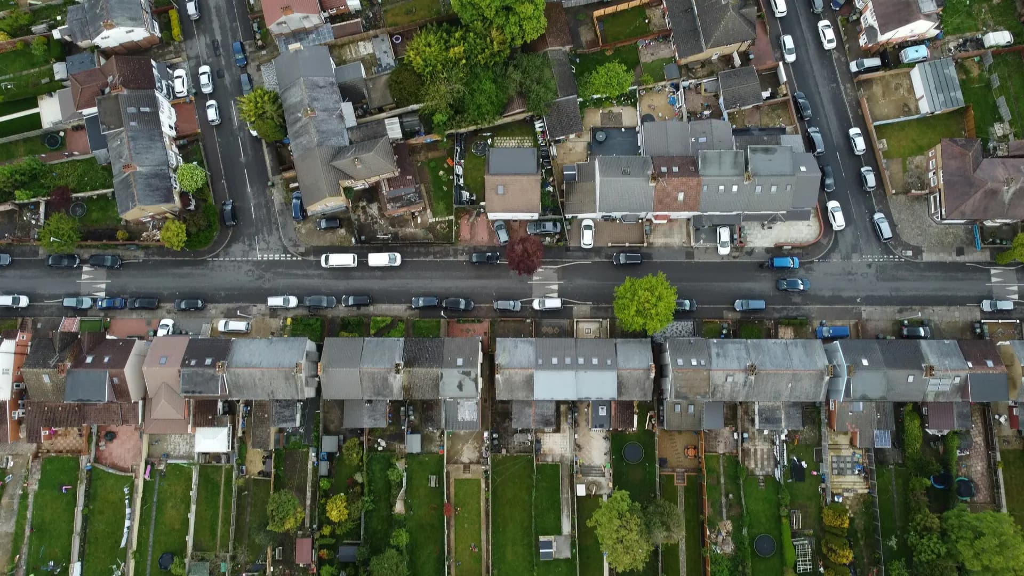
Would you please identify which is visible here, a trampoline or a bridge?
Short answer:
trampoline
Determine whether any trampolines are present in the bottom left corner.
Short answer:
Yes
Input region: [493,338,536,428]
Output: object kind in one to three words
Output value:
house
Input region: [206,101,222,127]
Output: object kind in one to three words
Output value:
car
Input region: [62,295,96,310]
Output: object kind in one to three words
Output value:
car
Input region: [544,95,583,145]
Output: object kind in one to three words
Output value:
shed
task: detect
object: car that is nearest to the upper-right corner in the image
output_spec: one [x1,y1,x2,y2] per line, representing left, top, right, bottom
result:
[979,30,1012,49]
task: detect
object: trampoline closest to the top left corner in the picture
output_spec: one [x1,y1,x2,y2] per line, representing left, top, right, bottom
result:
[39,131,63,149]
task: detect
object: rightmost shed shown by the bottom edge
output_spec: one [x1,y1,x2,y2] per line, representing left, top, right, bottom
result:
[539,538,553,561]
